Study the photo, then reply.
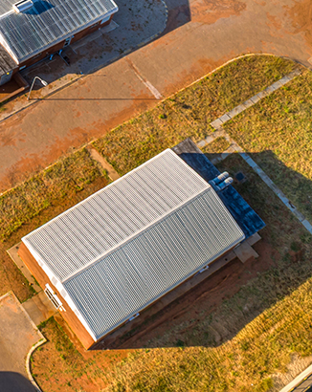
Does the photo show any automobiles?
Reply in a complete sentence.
No, the picture doesn't show any automobile.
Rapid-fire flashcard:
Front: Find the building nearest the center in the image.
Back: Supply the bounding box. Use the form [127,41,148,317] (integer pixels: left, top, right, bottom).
[19,138,266,346]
